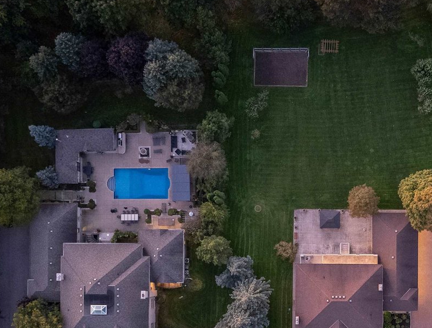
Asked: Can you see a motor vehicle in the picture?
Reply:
No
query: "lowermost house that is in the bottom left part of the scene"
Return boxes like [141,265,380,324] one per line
[27,203,186,328]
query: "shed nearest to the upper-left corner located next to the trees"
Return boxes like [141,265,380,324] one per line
[55,128,116,184]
